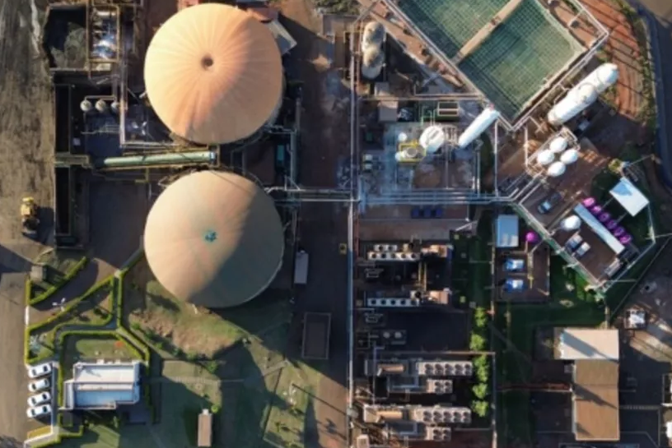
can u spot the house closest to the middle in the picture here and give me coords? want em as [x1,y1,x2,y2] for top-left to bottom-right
[422,246,450,259]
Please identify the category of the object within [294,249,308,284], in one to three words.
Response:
vehicle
